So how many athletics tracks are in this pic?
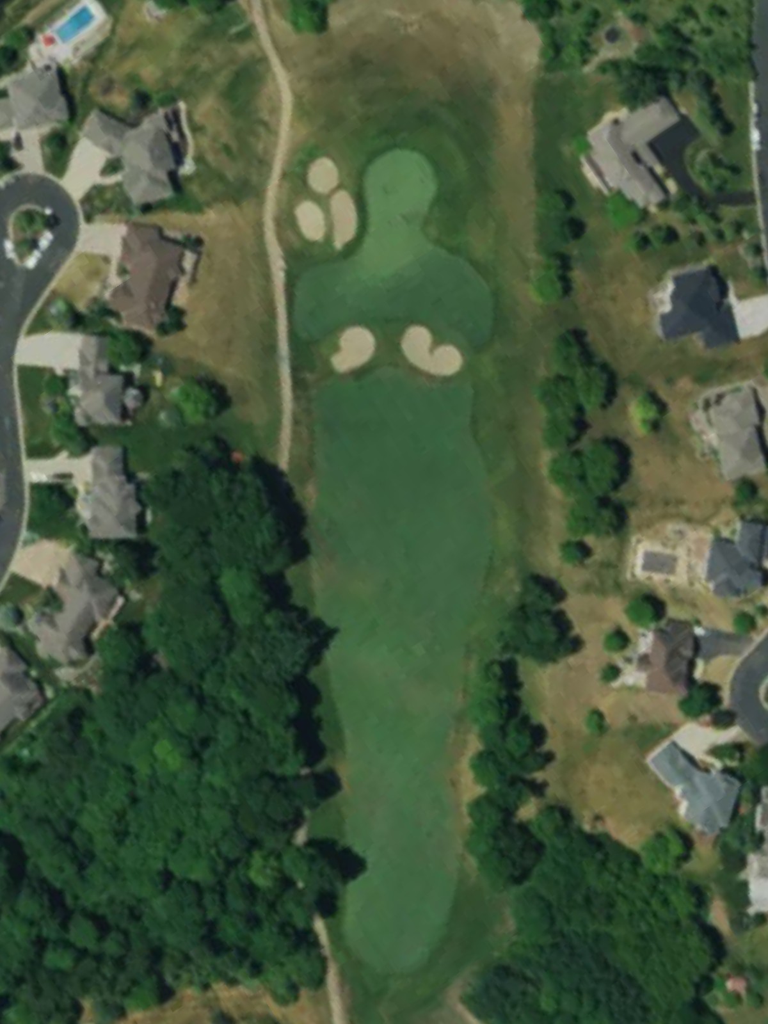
0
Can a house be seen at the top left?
Yes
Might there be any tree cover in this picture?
Yes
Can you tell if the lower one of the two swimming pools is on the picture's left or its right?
right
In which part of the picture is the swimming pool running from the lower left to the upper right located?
top left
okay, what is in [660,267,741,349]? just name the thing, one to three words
house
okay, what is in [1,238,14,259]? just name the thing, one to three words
vehicle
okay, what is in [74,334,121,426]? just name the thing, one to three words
house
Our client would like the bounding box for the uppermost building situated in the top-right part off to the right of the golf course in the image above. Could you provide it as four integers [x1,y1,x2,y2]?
[580,94,680,213]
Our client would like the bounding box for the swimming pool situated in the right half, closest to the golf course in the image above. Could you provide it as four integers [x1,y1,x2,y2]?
[639,548,681,577]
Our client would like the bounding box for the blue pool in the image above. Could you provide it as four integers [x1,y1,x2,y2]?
[53,2,98,46]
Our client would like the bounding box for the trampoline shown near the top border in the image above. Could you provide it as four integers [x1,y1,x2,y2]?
[604,27,620,43]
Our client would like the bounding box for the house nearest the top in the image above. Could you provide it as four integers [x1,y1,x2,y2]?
[0,66,67,131]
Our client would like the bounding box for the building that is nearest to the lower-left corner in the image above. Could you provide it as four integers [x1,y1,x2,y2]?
[0,638,44,725]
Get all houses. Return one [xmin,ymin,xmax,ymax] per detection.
[0,66,67,131]
[709,388,768,481]
[88,446,141,538]
[106,223,185,330]
[707,520,768,600]
[80,108,180,206]
[74,334,121,426]
[26,548,120,668]
[0,638,44,725]
[652,742,742,835]
[580,94,680,213]
[638,619,699,695]
[660,267,741,349]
